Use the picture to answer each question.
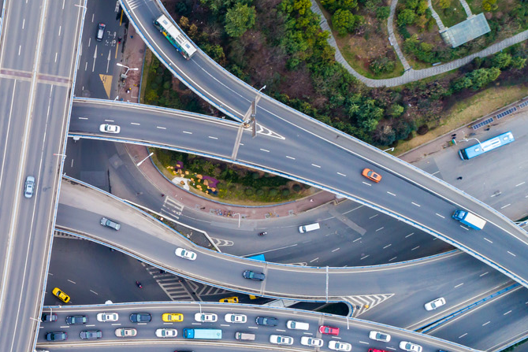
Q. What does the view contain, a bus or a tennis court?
bus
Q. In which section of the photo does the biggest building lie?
top right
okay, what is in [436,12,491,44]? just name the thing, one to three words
building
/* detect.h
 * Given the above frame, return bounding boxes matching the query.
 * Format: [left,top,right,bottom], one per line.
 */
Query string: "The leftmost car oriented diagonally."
[51,287,70,303]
